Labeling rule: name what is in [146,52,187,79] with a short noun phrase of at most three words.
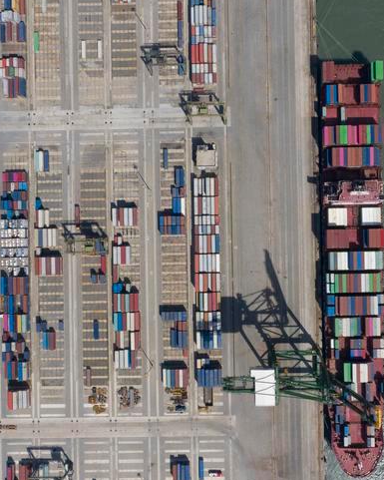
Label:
container crane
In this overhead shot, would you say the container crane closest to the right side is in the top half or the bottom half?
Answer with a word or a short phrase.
bottom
